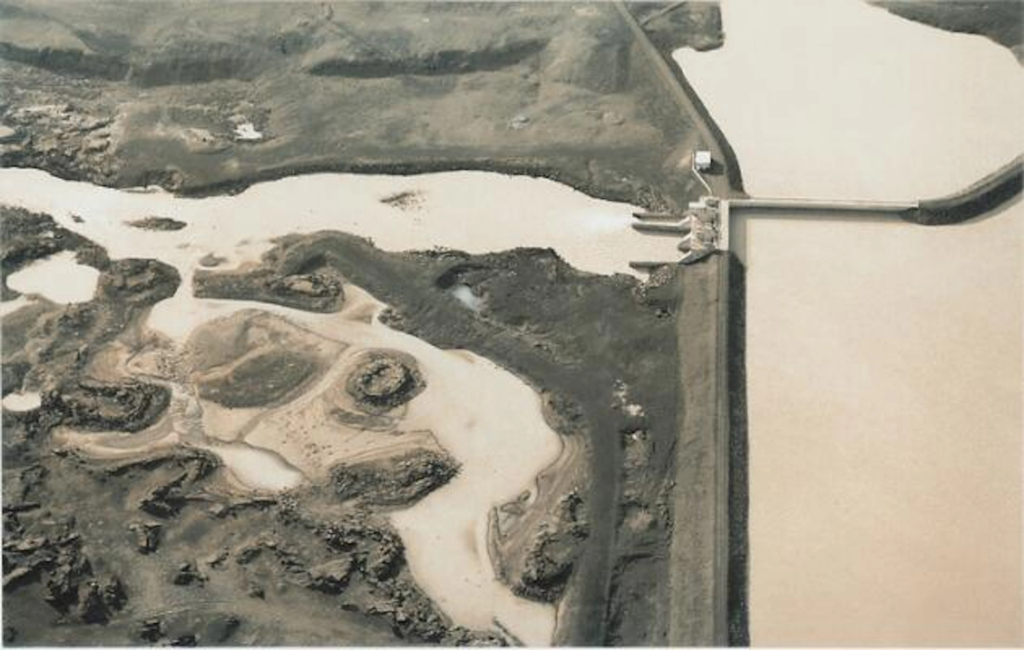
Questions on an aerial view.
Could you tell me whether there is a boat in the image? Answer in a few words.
No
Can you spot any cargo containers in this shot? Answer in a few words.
No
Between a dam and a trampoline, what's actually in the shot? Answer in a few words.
dam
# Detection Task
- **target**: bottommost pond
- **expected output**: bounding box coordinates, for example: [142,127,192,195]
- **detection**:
[208,444,303,490]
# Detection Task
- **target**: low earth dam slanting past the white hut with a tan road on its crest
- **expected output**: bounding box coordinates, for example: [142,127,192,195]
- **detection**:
[609,0,752,212]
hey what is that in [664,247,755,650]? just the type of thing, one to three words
dam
